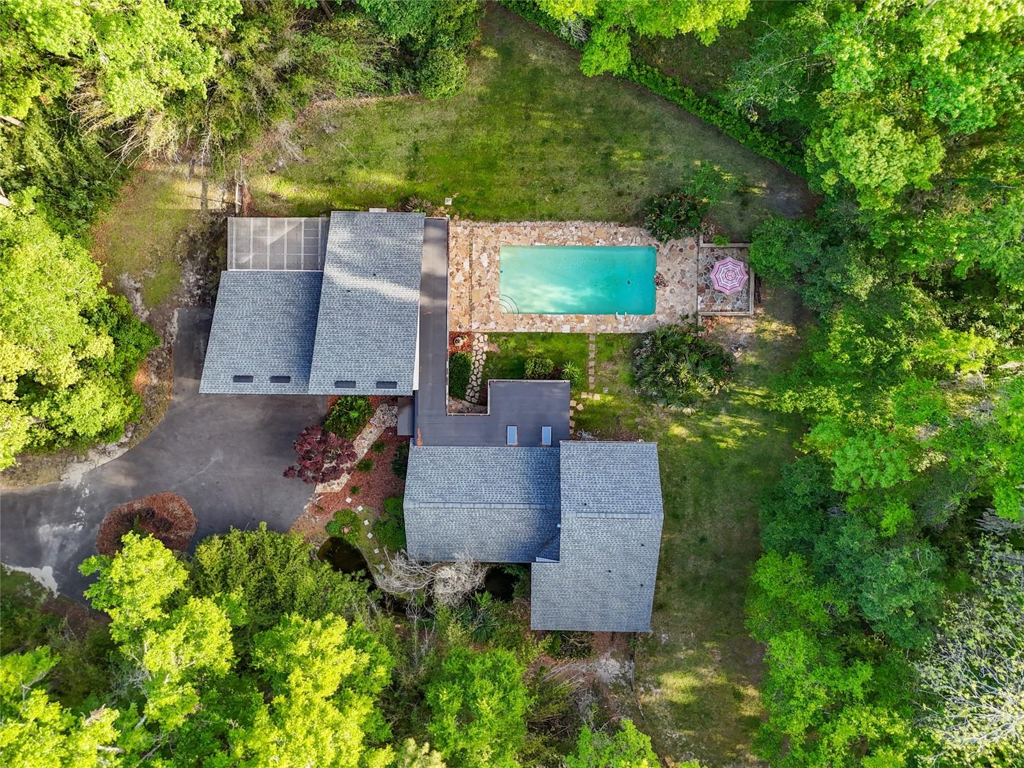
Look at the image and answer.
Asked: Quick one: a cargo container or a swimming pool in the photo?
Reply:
swimming pool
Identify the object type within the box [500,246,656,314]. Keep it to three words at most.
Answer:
swimming pool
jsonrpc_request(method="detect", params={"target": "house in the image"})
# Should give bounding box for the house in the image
[199,208,664,631]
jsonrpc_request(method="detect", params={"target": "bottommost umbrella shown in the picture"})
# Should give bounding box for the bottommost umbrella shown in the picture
[708,257,745,294]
